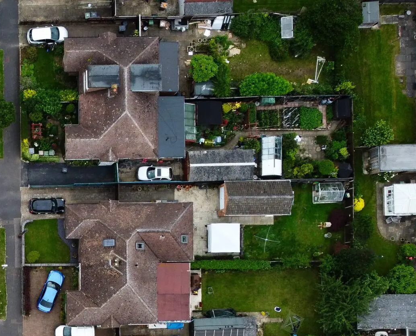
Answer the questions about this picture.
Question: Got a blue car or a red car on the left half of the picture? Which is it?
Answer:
blue car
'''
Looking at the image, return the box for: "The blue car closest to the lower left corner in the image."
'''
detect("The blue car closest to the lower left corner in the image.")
[37,270,64,313]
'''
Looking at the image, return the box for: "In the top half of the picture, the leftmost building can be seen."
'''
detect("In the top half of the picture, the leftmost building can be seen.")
[63,32,196,163]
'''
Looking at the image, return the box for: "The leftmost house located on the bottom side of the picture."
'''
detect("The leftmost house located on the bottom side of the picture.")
[65,199,194,328]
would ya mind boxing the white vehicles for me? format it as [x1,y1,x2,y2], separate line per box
[55,325,96,336]
[28,24,67,52]
[137,164,173,183]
